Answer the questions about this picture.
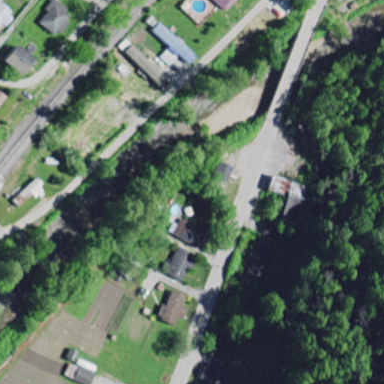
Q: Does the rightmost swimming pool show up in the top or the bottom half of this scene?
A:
top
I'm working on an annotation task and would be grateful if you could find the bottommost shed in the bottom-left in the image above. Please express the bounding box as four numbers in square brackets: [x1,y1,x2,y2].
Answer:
[64,364,94,384]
